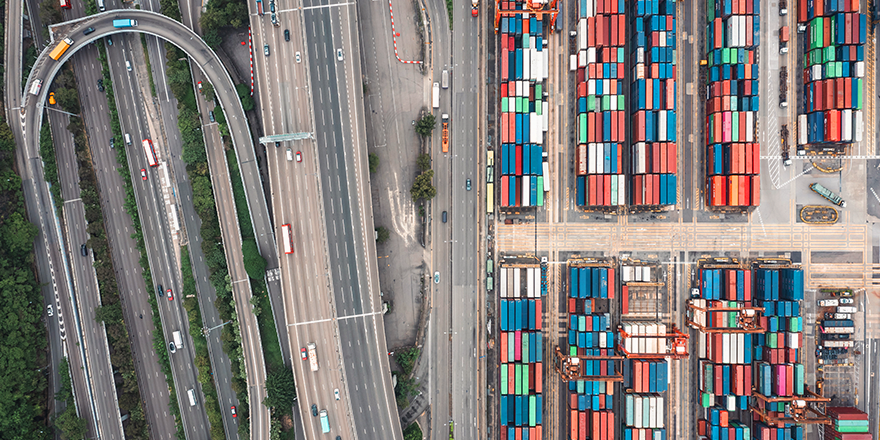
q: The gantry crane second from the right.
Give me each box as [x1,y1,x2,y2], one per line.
[687,298,767,333]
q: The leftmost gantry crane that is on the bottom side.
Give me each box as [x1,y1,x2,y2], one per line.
[559,343,625,382]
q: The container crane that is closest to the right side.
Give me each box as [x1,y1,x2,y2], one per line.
[748,383,833,425]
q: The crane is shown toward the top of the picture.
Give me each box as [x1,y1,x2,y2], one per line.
[494,0,560,29]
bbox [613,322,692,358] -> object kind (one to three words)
container crane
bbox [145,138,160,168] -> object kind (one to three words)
vehicle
